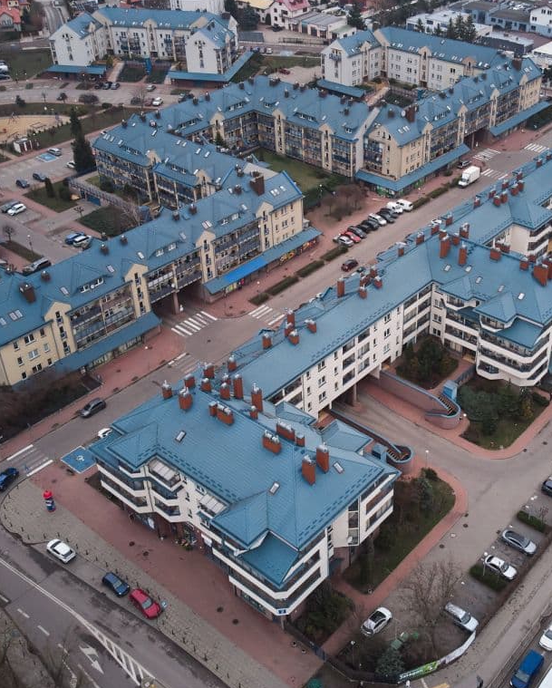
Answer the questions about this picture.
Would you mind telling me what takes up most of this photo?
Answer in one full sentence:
The scene is dominated by buildings.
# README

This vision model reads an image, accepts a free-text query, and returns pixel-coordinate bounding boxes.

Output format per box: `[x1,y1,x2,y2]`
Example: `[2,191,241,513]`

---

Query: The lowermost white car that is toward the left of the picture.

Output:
[45,537,77,564]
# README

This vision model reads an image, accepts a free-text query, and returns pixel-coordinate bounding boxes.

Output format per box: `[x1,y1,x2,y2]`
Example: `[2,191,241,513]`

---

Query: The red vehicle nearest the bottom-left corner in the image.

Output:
[127,587,163,618]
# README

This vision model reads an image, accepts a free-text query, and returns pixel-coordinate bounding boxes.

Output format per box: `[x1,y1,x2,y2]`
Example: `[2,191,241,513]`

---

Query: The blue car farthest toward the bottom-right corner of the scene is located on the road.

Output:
[510,650,542,688]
